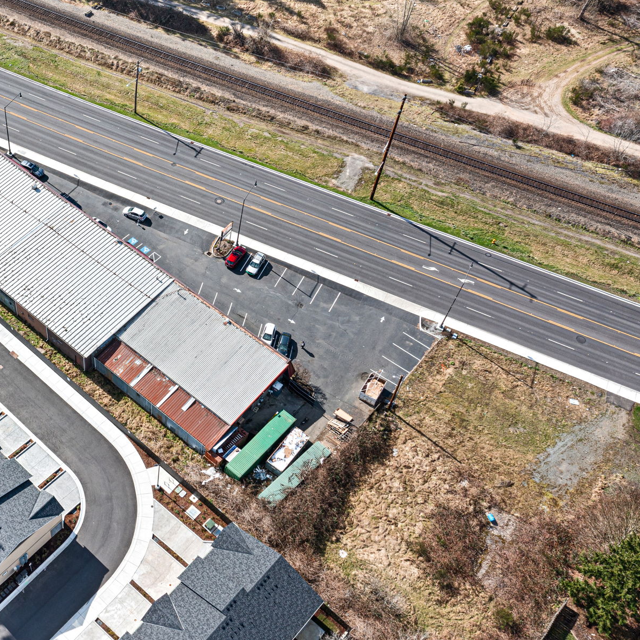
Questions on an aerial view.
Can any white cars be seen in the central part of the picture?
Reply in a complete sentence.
Yes, I can see a white car in the central part of the picture.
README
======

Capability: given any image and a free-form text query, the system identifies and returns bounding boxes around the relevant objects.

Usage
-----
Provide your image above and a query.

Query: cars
[225,245,246,270]
[245,250,266,276]
[19,159,46,180]
[59,191,82,210]
[122,207,149,223]
[262,320,278,342]
[277,330,294,353]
